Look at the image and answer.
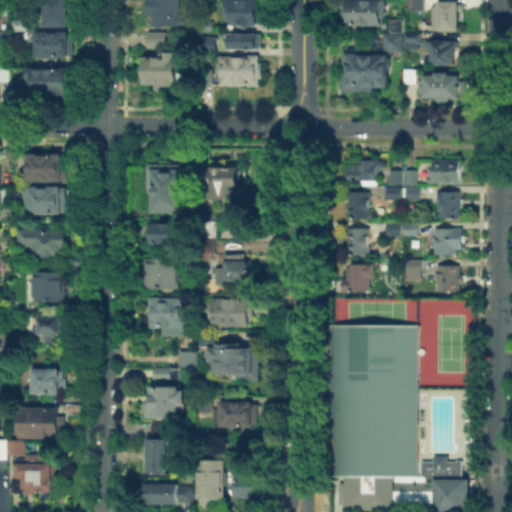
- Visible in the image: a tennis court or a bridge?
tennis court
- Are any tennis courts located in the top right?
No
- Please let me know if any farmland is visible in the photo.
No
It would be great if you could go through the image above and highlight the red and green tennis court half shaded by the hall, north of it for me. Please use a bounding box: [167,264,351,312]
[335,298,418,324]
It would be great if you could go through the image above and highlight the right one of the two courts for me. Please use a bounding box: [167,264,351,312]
[419,300,470,386]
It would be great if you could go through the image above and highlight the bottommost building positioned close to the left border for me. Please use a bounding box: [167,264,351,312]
[13,464,50,498]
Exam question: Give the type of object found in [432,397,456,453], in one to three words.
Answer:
swimming pool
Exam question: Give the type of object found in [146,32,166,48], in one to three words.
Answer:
building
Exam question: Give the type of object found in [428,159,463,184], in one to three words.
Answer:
house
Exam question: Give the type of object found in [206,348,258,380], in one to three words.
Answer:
house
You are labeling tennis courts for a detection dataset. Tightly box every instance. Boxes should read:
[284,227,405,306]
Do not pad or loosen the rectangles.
[335,298,418,324]
[419,300,470,386]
